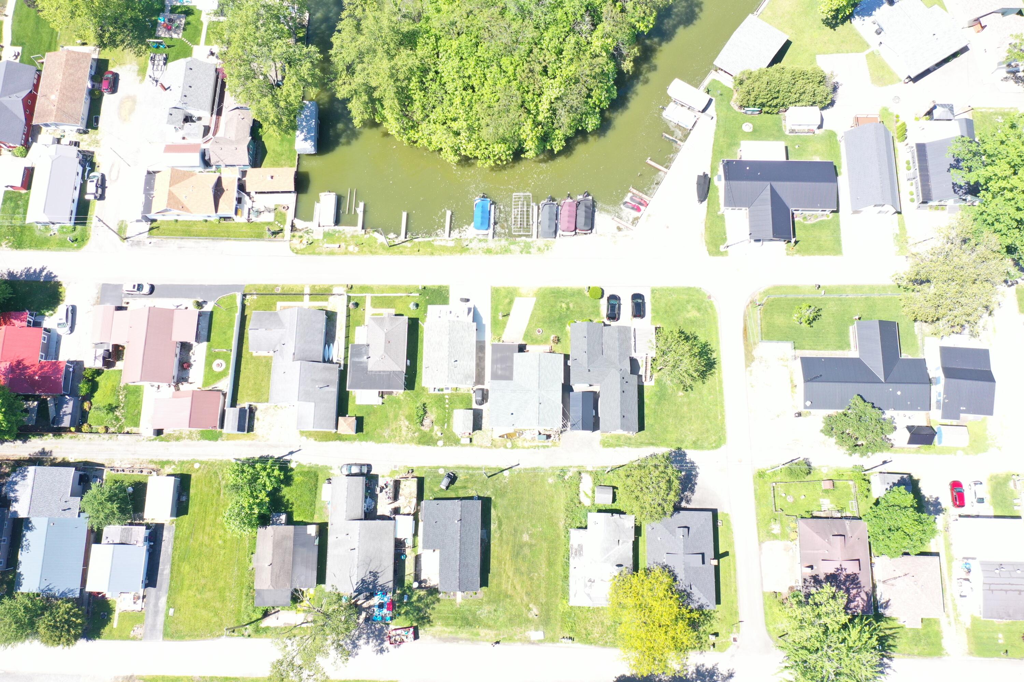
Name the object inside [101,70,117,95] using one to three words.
car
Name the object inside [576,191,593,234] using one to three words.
boat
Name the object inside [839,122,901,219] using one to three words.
barn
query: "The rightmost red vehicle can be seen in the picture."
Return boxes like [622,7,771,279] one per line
[948,479,966,510]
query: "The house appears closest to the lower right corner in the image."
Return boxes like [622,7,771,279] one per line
[971,561,1024,621]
